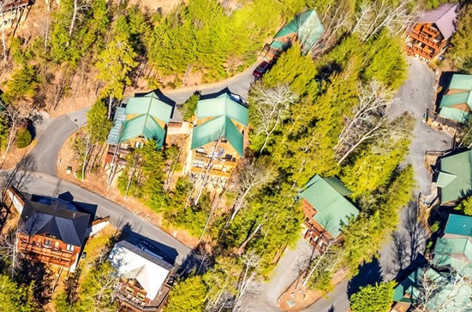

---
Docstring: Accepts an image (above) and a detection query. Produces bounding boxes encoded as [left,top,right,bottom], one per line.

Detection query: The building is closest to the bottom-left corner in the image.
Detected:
[19,196,90,271]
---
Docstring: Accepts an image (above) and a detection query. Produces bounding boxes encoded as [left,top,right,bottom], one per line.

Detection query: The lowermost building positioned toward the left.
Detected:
[102,241,175,312]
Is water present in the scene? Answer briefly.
No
